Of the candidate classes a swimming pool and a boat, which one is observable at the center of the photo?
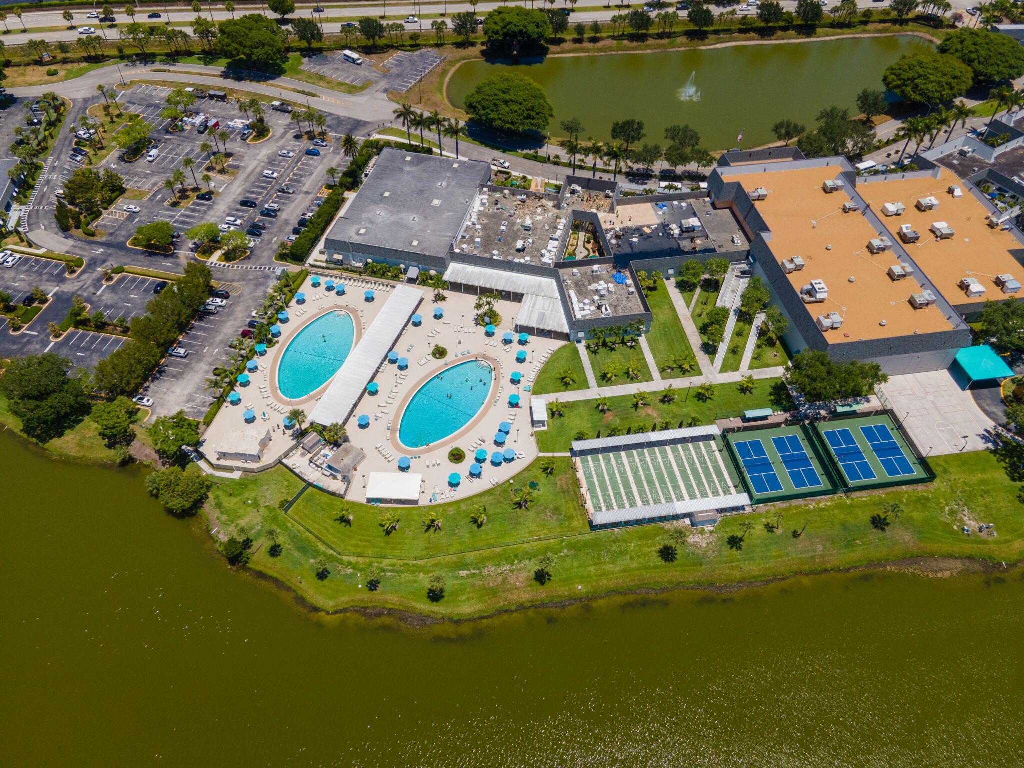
swimming pool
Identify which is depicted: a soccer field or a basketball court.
basketball court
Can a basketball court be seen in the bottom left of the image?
No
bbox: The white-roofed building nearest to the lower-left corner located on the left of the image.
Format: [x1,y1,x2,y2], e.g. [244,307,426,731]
[216,428,270,461]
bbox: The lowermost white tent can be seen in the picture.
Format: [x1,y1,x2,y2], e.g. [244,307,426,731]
[366,473,423,508]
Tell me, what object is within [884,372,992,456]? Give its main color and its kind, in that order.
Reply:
white basketball court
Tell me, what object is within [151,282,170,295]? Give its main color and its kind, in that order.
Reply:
black vehicle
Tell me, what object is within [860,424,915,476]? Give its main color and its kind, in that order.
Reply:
blue sports court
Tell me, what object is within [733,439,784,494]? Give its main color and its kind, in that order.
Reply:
blue sports court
